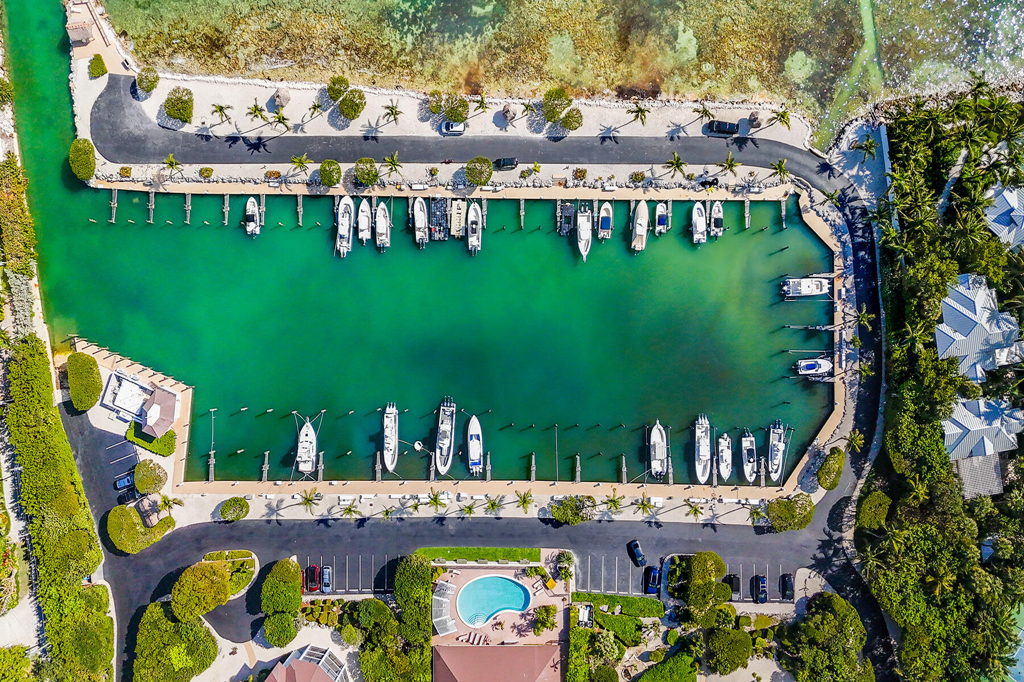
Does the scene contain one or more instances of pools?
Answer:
Yes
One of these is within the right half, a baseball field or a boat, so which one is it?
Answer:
boat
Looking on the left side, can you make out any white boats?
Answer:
Yes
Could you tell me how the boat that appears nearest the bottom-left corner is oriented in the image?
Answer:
vertically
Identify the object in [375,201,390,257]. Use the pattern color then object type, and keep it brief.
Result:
white boat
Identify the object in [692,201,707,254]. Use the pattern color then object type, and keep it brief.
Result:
white boat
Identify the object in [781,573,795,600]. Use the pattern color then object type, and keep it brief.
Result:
black car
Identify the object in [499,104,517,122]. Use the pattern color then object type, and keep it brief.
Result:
gray umbrella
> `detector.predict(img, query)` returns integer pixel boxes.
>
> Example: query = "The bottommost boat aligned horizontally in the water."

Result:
[788,359,834,374]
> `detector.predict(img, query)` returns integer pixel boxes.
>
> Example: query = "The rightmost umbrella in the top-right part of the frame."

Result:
[745,111,763,129]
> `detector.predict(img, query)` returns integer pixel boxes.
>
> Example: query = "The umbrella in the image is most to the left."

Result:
[273,89,293,108]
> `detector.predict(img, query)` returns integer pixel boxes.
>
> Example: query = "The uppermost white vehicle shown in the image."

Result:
[441,123,466,135]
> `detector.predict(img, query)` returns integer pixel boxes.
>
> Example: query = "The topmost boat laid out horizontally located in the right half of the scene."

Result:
[775,278,831,296]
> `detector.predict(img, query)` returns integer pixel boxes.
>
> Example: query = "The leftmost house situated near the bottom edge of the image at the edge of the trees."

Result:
[267,640,350,682]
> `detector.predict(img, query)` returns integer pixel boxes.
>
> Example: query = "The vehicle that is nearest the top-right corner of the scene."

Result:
[707,120,738,134]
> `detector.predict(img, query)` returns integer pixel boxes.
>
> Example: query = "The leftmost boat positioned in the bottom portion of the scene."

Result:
[296,415,316,472]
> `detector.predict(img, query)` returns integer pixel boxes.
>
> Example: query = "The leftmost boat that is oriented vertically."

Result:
[243,196,259,245]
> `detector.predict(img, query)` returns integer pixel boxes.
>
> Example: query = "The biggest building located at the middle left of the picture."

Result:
[99,371,189,438]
